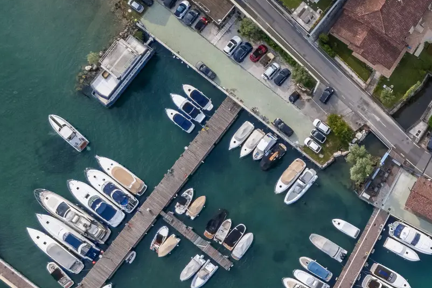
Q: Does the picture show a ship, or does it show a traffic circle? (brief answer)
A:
ship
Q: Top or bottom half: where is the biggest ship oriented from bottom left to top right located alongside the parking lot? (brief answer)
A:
top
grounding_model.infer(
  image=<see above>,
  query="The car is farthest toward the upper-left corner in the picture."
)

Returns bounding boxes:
[128,0,147,16]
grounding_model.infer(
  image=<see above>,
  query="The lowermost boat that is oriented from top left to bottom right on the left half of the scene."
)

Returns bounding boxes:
[45,261,80,288]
